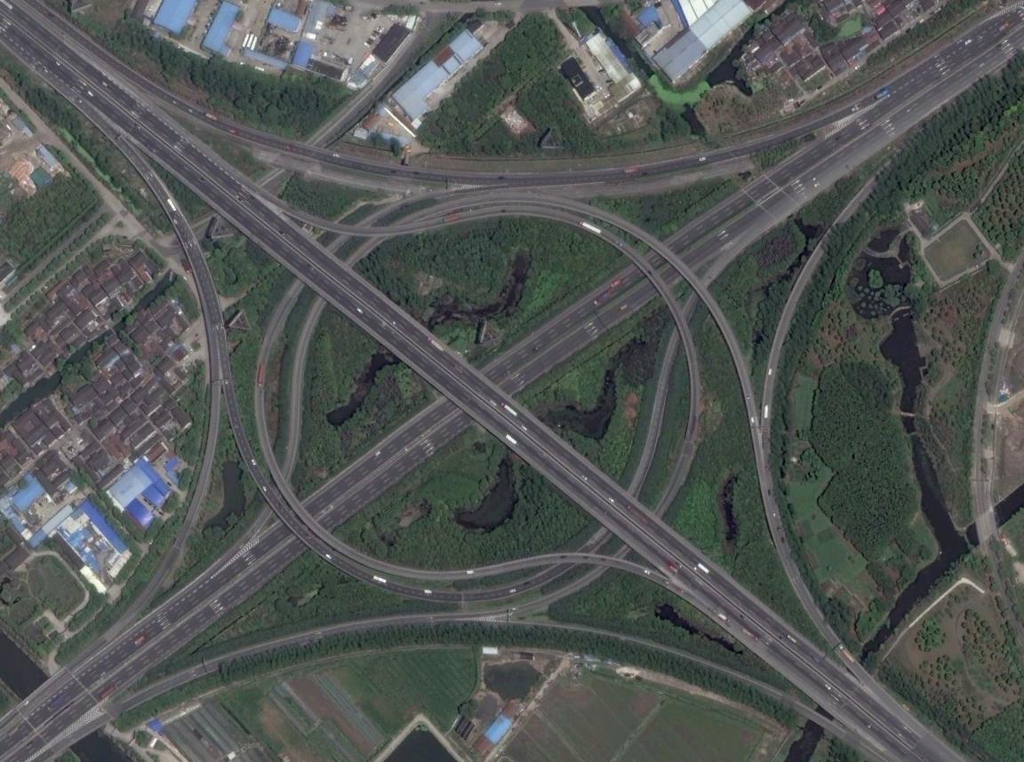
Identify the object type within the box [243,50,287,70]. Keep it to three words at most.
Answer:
building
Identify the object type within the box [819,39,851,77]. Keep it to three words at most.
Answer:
house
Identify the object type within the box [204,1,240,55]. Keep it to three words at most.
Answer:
building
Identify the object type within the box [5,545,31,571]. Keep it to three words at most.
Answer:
house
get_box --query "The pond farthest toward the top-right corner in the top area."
[847,230,912,319]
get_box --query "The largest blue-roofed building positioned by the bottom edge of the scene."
[485,715,512,744]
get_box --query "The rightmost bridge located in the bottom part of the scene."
[974,499,997,559]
